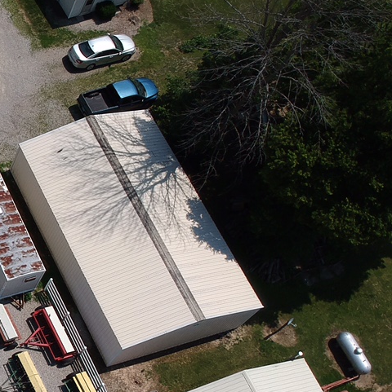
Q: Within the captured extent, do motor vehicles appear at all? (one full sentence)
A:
Yes, there is a motor vehicle in the image.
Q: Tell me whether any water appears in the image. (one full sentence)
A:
No, the scene doesn't show any water.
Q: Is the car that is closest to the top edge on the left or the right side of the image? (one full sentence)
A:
It is on the left.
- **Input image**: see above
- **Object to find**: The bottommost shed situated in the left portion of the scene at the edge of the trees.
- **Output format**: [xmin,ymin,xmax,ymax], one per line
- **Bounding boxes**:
[13,106,264,365]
